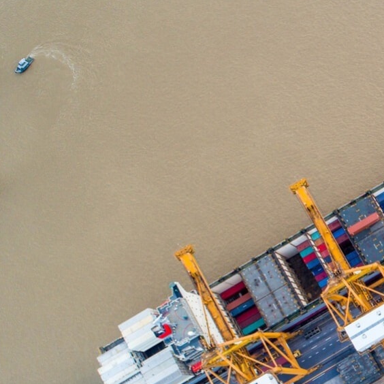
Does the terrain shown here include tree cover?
No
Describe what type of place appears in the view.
port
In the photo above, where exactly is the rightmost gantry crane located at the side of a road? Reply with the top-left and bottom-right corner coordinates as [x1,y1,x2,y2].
[288,178,384,366]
